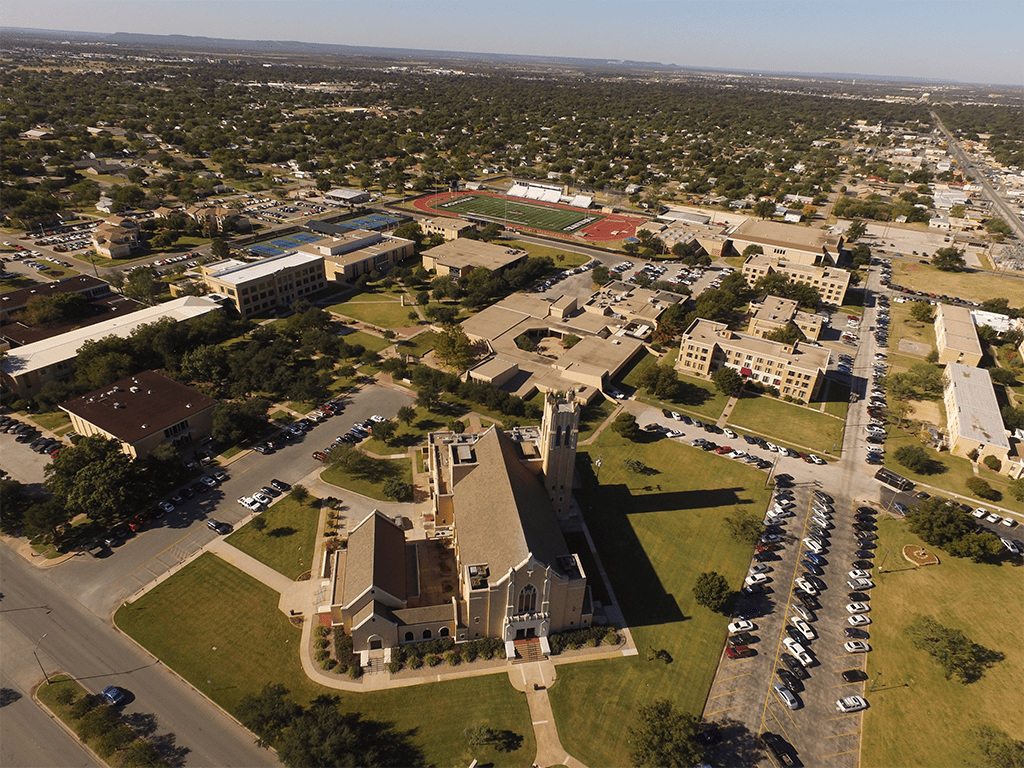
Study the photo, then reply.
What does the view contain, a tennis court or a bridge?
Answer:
tennis court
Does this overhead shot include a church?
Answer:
Yes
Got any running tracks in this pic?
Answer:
Yes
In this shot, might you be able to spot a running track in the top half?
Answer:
Yes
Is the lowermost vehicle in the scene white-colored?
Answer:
No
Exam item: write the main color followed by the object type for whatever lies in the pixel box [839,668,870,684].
black car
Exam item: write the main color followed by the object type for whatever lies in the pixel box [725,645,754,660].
red car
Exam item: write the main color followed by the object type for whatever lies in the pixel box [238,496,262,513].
white vehicle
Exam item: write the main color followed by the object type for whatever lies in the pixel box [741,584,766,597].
black vehicle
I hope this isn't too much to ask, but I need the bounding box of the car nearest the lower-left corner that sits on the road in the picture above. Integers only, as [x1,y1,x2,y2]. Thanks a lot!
[101,683,128,706]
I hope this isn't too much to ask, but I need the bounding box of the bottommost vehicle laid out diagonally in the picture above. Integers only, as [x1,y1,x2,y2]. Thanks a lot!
[763,729,796,768]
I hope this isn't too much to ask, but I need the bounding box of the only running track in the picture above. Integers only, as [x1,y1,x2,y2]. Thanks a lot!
[419,192,645,240]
